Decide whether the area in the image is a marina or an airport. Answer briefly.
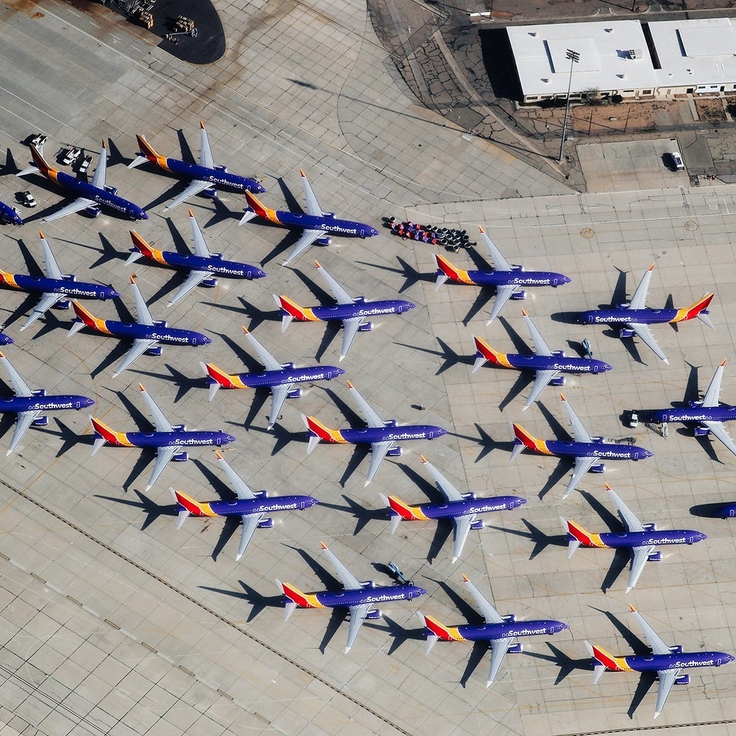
airport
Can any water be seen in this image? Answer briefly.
No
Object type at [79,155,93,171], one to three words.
vehicle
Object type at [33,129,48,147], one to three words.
vehicle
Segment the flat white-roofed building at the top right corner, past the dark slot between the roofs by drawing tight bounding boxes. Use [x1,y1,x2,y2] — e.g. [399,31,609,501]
[640,17,736,98]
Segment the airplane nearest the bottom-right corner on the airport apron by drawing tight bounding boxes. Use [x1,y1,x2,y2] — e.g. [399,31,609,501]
[583,604,735,719]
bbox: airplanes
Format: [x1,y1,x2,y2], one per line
[272,261,415,362]
[0,203,22,224]
[238,170,379,266]
[123,210,265,308]
[470,308,611,410]
[573,264,717,365]
[15,139,148,224]
[558,483,707,593]
[88,384,234,491]
[0,332,13,345]
[379,456,527,564]
[126,120,265,212]
[199,327,344,431]
[300,381,446,487]
[640,361,736,465]
[431,226,571,326]
[169,452,318,561]
[583,604,735,719]
[509,393,653,500]
[65,275,211,377]
[0,350,95,456]
[0,231,119,331]
[416,574,568,689]
[275,542,426,655]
